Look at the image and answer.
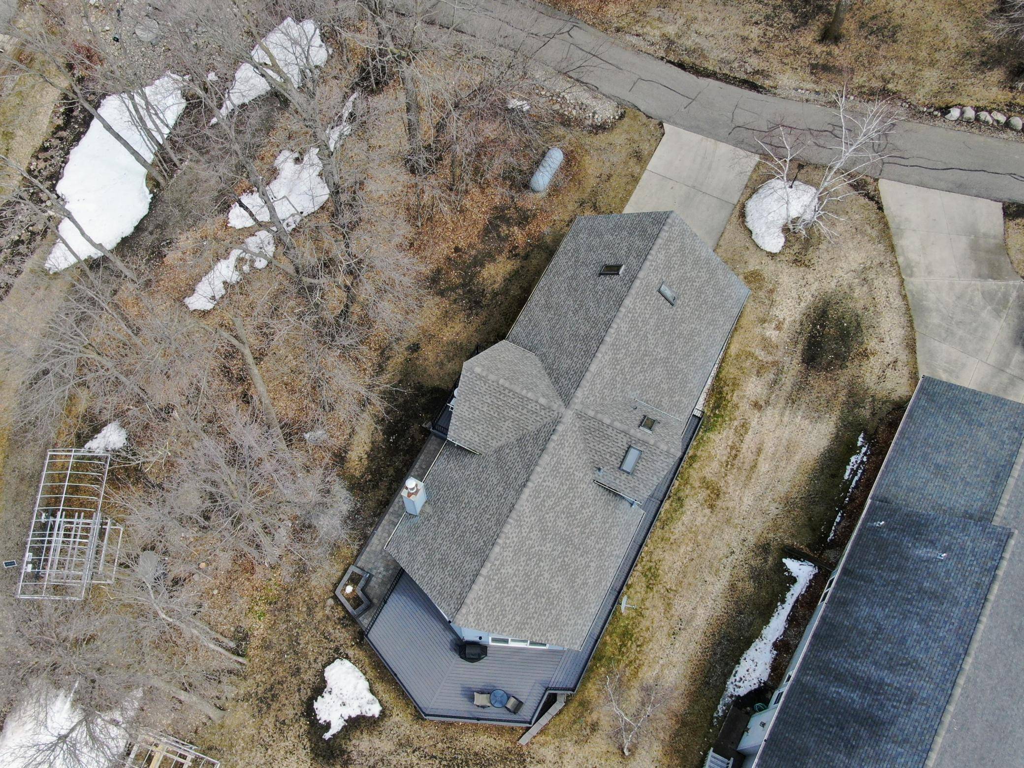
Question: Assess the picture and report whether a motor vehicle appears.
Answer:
No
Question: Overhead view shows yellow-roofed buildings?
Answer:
No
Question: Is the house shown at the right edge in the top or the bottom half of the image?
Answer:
bottom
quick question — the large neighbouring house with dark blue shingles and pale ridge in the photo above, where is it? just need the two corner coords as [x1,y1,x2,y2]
[738,374,1024,768]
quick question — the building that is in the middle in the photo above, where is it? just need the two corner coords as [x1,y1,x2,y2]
[382,211,750,652]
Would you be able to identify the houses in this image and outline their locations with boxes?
[738,374,1024,768]
[382,211,750,652]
